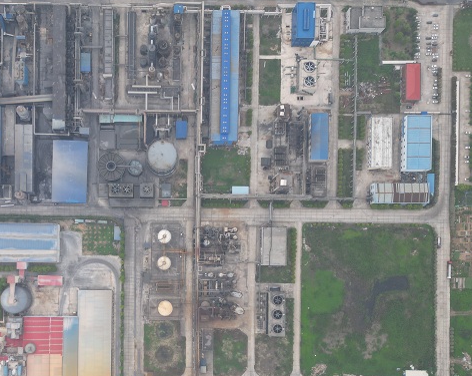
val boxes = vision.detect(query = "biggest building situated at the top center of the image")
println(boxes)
[211,9,239,146]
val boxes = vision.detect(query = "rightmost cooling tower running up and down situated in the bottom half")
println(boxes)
[266,292,286,336]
